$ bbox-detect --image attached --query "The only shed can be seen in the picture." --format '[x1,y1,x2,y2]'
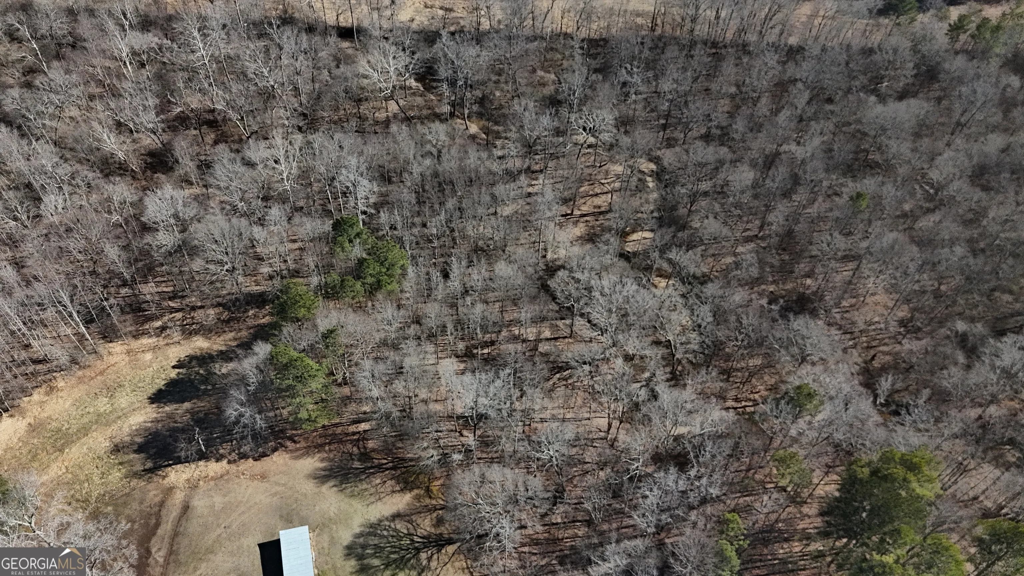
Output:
[279,525,315,576]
